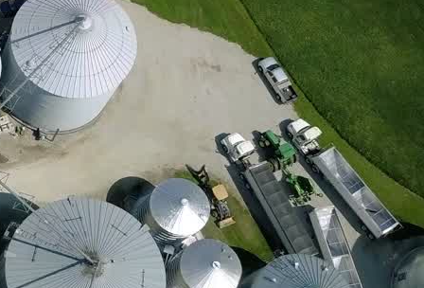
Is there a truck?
Yes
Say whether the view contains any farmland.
Yes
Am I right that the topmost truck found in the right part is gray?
Yes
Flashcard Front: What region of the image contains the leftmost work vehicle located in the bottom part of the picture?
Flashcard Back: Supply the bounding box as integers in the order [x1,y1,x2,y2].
[182,167,237,233]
